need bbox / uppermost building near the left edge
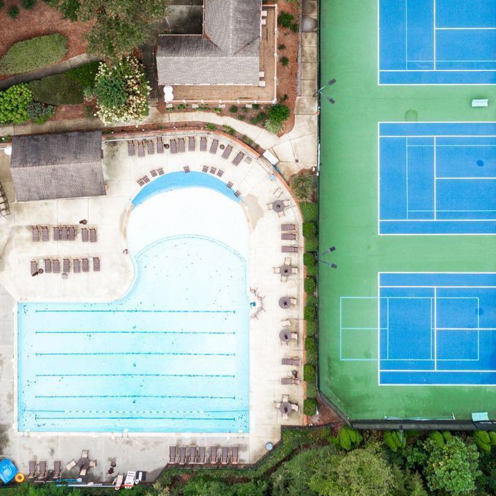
[11,131,107,203]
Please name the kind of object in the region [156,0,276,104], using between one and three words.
building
